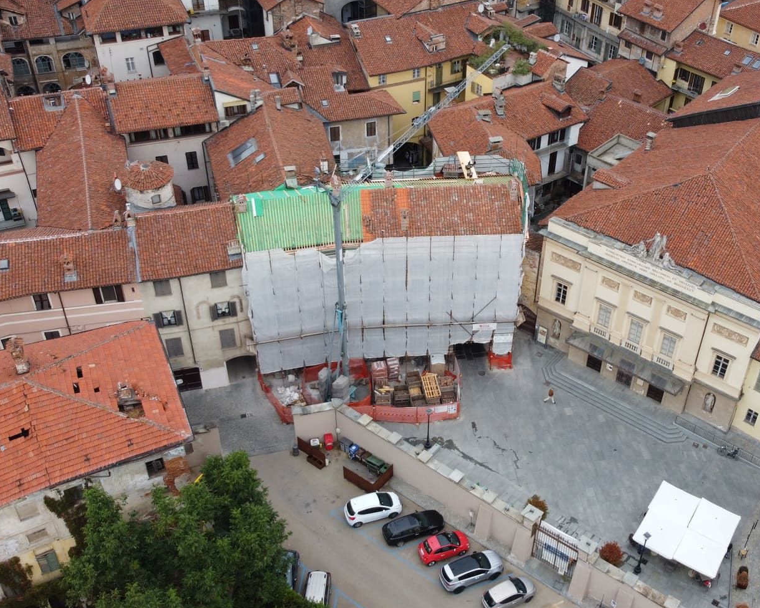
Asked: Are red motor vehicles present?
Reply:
Yes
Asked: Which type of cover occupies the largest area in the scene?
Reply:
buildings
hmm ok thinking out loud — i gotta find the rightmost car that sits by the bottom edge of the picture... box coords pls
[483,578,534,608]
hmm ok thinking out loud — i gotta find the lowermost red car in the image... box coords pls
[420,532,466,565]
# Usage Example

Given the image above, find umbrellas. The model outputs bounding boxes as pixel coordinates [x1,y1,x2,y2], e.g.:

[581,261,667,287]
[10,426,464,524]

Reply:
[649,482,699,526]
[683,497,739,546]
[672,527,724,580]
[633,510,684,561]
